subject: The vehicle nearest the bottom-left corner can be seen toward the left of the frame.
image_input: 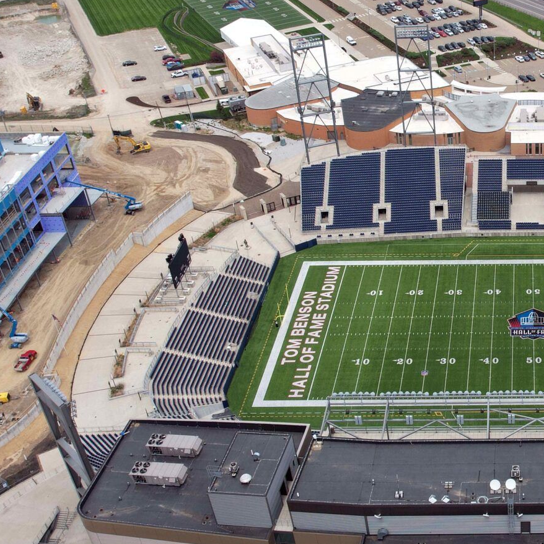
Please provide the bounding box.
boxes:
[13,349,35,368]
